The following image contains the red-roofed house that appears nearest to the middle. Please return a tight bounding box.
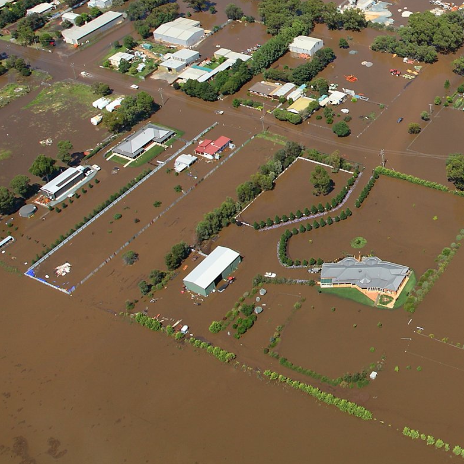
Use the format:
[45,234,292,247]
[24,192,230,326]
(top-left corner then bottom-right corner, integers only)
[194,134,231,159]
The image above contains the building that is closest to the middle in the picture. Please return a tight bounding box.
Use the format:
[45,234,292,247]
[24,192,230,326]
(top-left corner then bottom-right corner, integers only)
[183,246,242,297]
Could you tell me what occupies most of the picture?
water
